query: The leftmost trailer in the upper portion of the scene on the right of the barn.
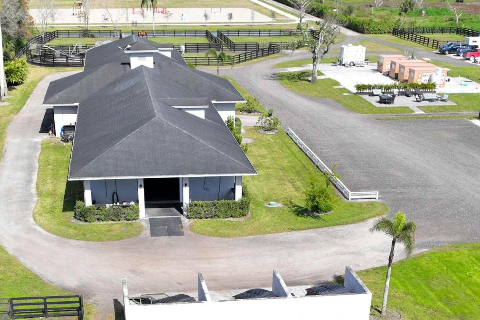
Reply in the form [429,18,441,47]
[332,36,375,65]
